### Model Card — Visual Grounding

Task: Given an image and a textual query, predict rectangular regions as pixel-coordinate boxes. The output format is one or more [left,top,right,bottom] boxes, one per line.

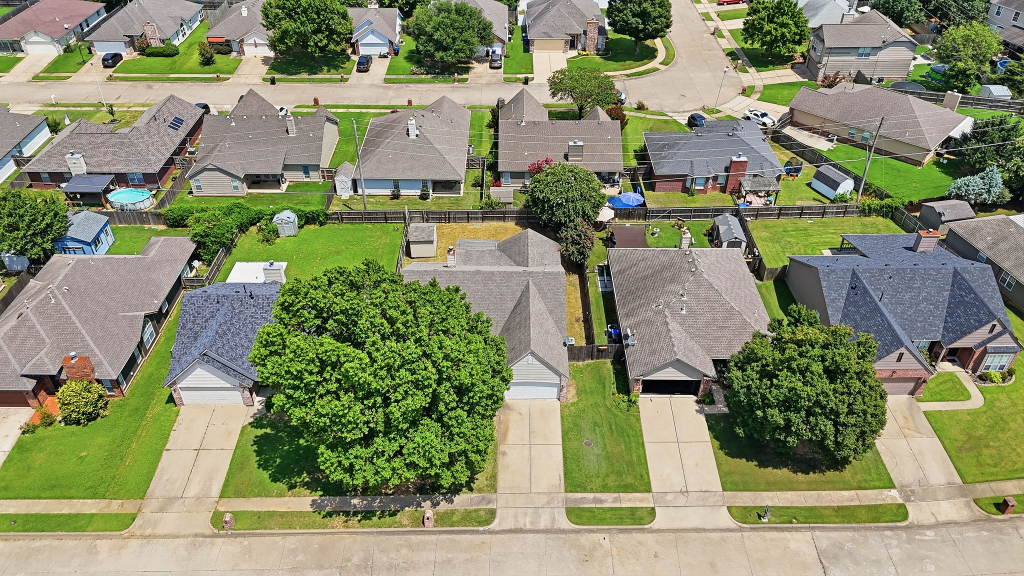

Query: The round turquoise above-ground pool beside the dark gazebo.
[104,184,159,212]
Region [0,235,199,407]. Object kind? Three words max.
house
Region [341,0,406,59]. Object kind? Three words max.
house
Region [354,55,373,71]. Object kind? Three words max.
car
